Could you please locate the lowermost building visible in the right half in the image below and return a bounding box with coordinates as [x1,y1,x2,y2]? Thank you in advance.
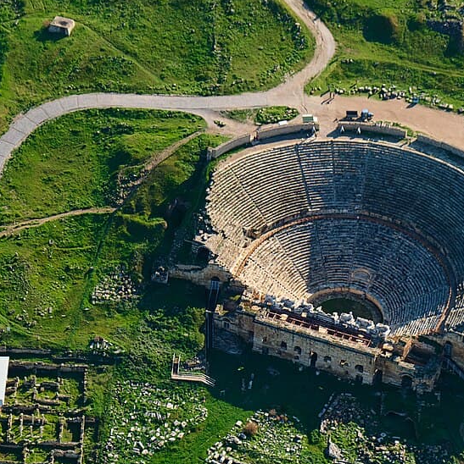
[214,296,441,394]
